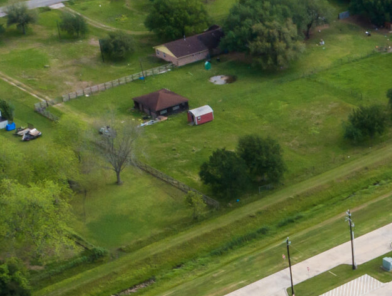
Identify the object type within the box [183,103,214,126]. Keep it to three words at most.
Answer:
shed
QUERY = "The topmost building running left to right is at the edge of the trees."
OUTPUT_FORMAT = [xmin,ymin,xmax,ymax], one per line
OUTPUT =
[154,32,235,69]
